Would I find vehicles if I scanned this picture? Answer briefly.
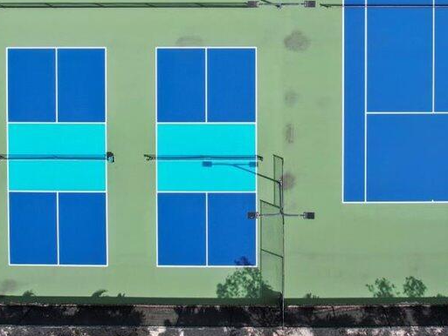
No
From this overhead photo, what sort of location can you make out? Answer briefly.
sports ground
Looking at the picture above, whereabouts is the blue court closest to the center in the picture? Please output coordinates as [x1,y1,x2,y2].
[155,47,257,268]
